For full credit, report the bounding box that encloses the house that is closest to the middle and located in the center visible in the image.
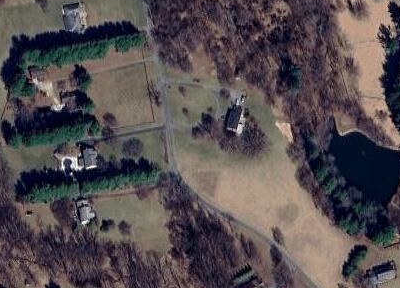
[225,100,244,129]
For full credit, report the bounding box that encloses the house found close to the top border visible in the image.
[62,4,83,28]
